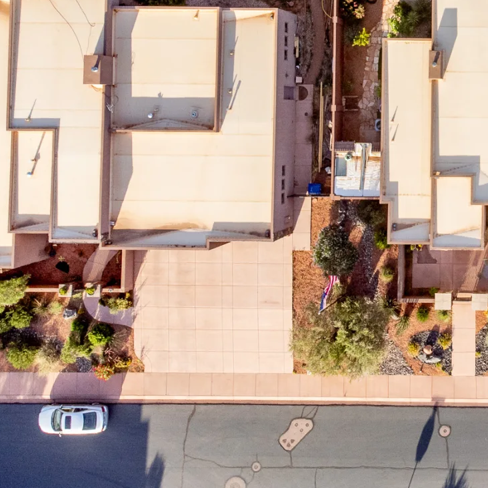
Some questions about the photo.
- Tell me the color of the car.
white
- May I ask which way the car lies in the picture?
horizontally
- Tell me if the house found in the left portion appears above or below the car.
above it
